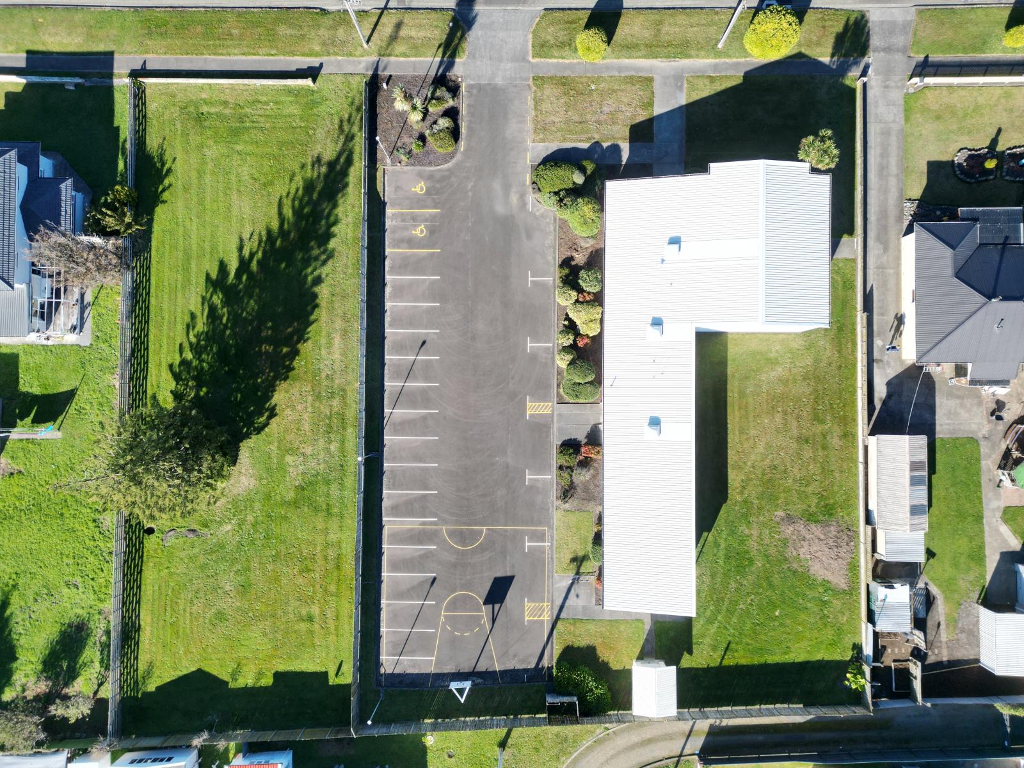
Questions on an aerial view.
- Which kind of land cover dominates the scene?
grass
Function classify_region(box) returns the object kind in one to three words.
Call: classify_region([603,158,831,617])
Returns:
building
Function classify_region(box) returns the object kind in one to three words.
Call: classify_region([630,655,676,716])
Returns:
shed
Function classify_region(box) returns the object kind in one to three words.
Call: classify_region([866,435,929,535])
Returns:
shed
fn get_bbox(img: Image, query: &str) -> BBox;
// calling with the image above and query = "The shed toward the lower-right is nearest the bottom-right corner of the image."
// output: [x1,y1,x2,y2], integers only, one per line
[964,601,1024,672]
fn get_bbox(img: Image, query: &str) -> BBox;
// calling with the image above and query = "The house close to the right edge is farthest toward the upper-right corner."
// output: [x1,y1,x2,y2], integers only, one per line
[902,209,1024,387]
